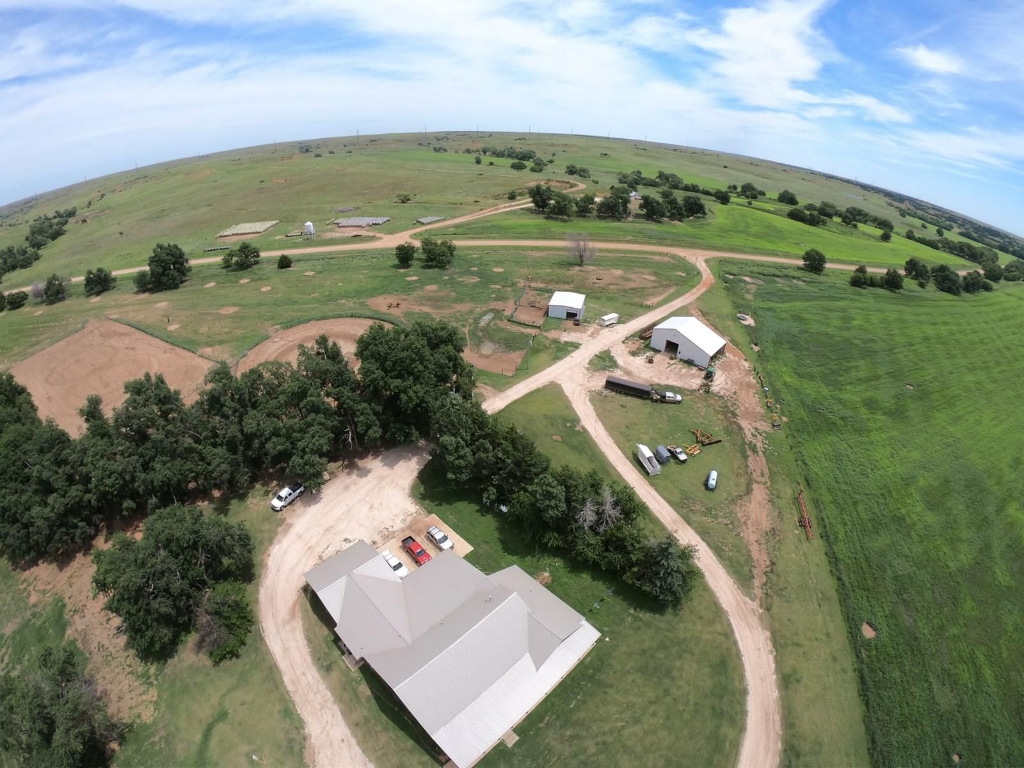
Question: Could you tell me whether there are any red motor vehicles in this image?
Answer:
Yes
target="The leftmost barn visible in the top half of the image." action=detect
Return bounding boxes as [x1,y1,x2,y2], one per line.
[548,291,583,319]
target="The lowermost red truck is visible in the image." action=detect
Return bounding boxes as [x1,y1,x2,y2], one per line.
[396,531,435,569]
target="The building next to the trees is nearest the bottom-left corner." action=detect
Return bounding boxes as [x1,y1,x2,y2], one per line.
[302,541,601,768]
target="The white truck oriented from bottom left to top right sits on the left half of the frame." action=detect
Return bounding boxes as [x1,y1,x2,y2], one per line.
[266,482,308,512]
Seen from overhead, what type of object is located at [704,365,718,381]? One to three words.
work vehicle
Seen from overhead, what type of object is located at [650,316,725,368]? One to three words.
barn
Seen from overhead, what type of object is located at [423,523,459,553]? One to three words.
car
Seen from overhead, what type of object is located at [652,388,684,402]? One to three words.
vehicle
